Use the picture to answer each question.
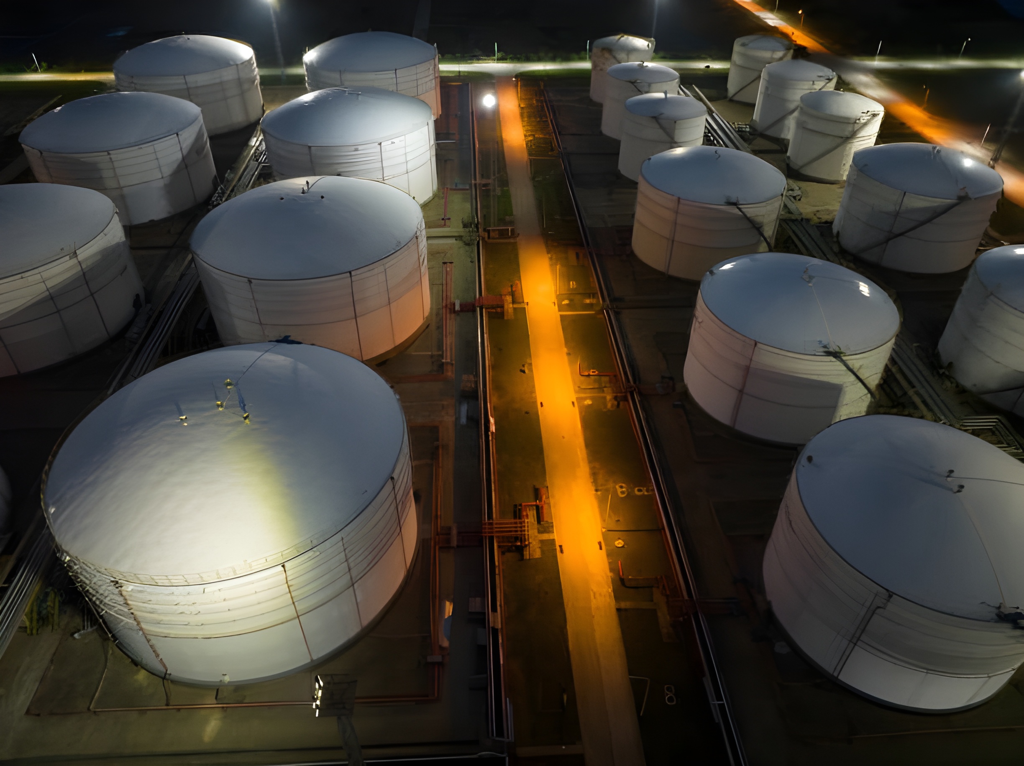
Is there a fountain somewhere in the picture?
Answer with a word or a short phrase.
No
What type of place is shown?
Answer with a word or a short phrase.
industrial area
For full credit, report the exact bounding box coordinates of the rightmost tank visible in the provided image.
[936,241,1024,414]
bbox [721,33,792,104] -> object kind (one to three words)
storage tank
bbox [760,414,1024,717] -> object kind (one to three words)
storage tank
